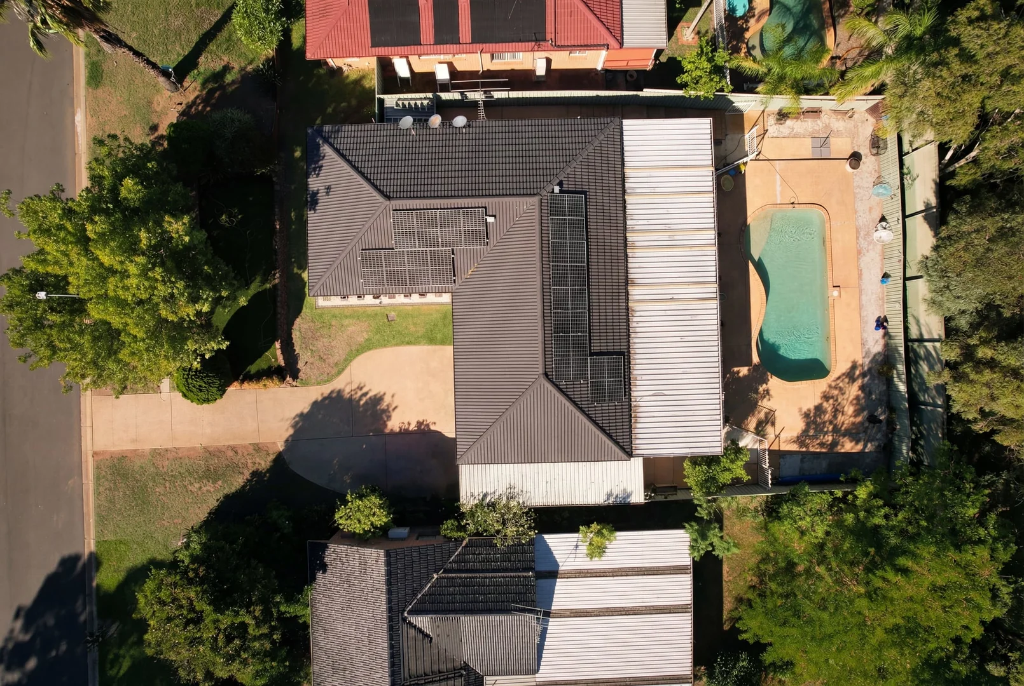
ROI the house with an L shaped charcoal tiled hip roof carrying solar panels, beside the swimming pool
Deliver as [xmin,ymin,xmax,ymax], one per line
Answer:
[306,115,634,466]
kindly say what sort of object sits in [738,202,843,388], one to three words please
swimming pool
